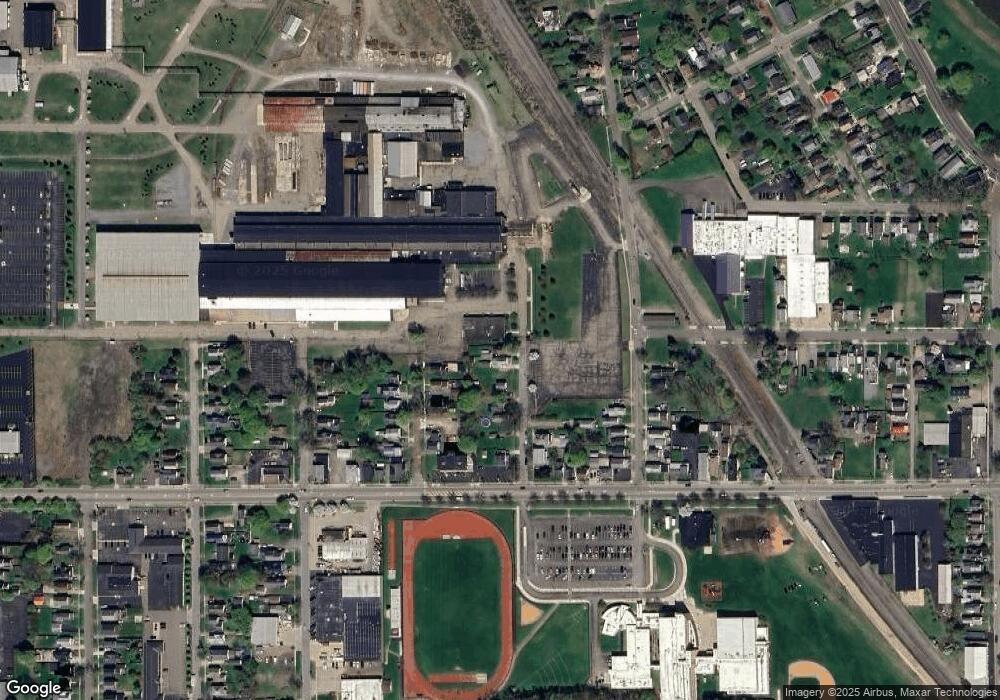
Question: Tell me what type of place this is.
residential area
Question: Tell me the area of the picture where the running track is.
bottom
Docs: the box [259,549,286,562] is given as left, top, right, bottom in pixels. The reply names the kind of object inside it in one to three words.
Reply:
house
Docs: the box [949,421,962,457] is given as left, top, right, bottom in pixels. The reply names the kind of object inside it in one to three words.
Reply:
building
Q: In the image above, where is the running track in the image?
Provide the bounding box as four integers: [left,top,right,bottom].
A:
[402,511,513,700]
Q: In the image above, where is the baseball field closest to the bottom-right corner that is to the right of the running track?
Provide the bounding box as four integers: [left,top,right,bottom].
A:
[784,660,836,700]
